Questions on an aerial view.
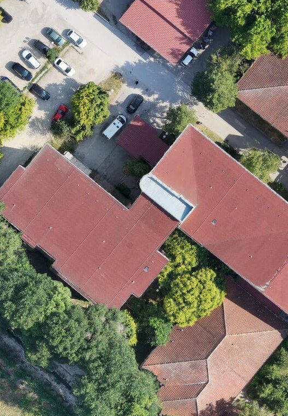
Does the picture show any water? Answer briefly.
No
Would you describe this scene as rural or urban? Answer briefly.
urban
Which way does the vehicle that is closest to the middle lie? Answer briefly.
diagonally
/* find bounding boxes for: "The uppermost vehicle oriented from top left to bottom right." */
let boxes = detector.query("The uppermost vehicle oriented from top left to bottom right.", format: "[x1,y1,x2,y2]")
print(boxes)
[0,5,16,25]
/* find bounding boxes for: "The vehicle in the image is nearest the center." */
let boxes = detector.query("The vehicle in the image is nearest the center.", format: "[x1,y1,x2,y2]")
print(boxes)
[100,115,126,140]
